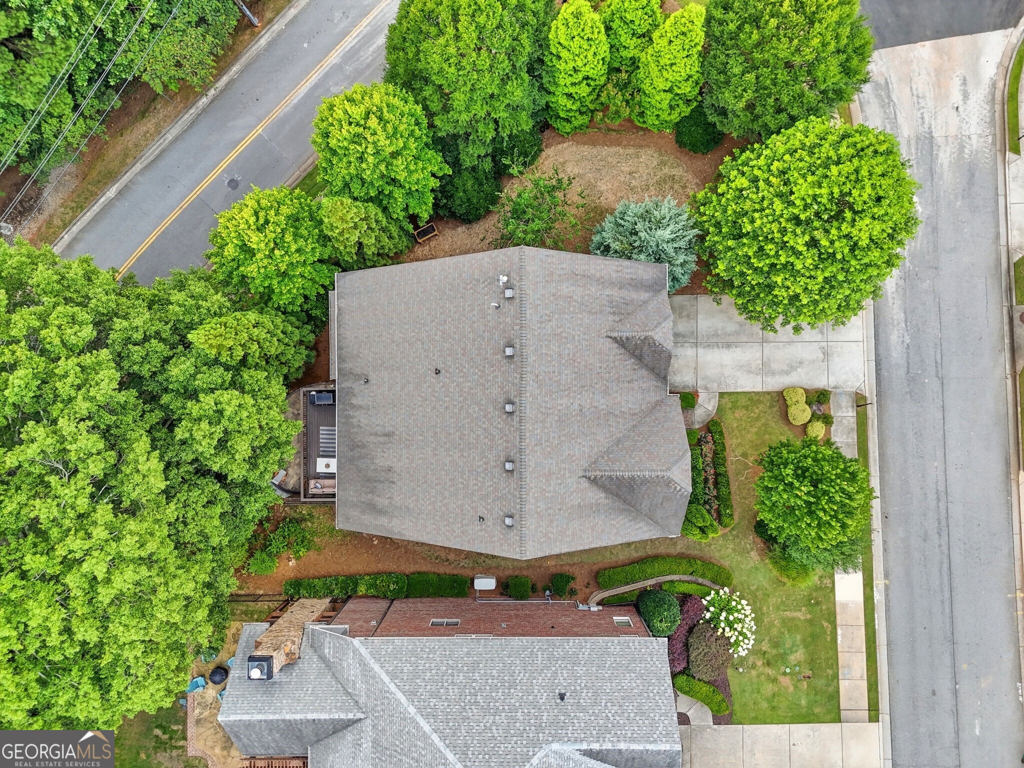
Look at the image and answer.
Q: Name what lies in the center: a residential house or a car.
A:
residential house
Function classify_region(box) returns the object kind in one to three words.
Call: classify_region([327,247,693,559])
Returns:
house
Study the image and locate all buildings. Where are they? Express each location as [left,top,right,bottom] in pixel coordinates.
[217,590,683,768]
[327,247,693,559]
